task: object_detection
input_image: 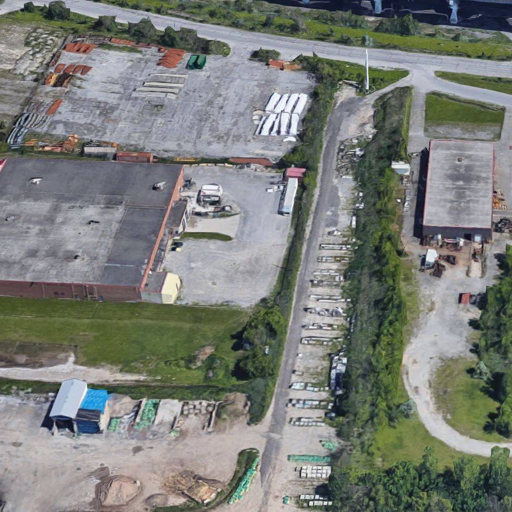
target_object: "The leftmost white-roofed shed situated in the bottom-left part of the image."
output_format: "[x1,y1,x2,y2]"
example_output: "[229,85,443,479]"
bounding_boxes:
[49,378,88,435]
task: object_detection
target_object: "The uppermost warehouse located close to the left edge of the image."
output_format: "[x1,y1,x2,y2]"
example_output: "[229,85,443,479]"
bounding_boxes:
[0,157,190,304]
